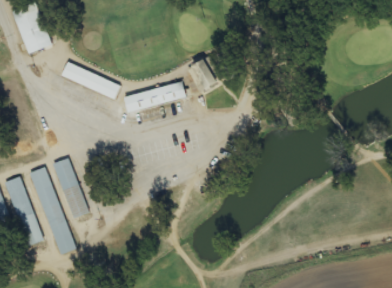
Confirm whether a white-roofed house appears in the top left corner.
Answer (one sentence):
Yes, a white-roofed house shows up in the top left corner.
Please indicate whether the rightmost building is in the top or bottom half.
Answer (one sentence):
It is in the top half that the rightmost building appears.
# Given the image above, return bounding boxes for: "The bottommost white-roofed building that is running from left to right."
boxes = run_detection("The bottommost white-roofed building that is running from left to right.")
[124,82,186,112]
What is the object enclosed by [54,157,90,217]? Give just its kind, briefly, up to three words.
barn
